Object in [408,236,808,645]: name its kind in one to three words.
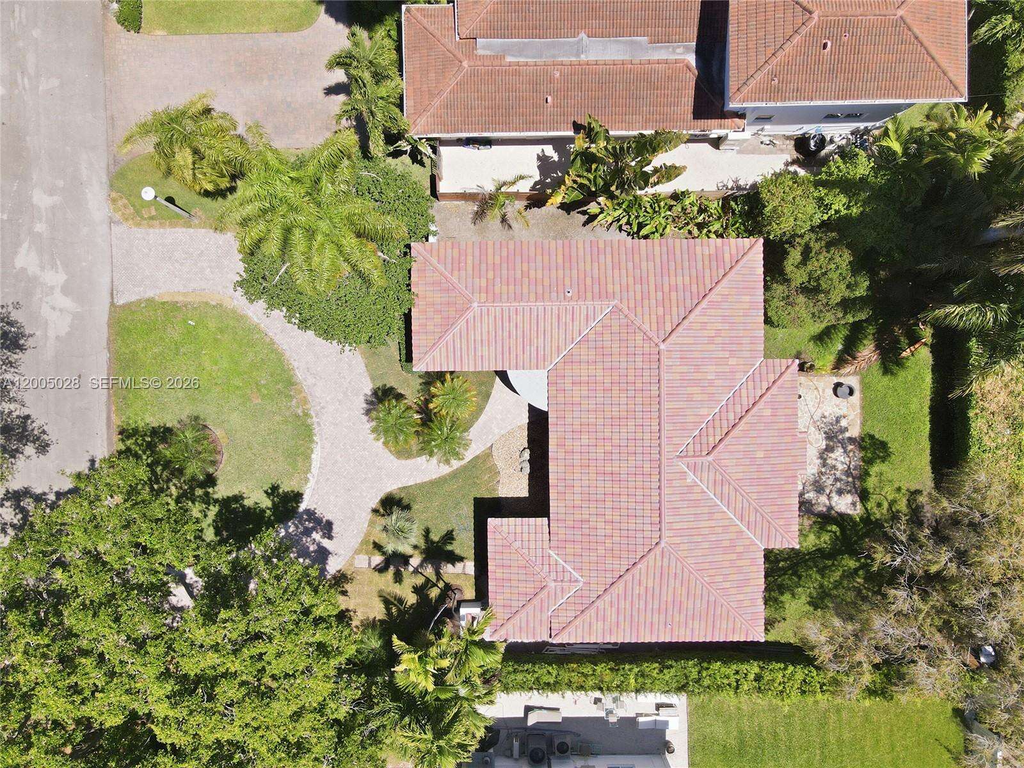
house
